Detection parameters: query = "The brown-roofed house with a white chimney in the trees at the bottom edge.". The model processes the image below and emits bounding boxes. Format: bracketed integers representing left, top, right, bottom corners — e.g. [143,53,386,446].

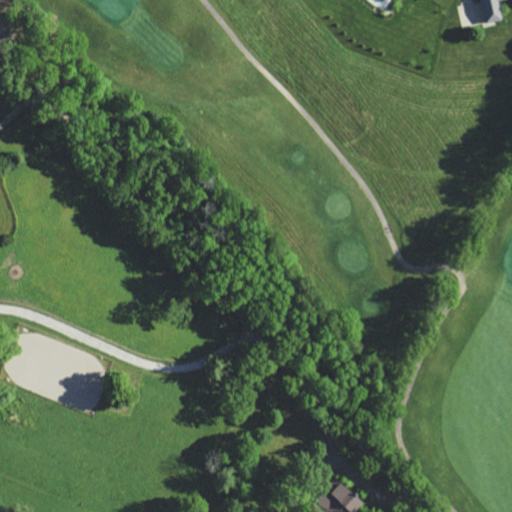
[328,484,360,512]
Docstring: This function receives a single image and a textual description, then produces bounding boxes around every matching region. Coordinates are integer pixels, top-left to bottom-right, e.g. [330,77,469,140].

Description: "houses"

[328,484,360,512]
[483,0,503,18]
